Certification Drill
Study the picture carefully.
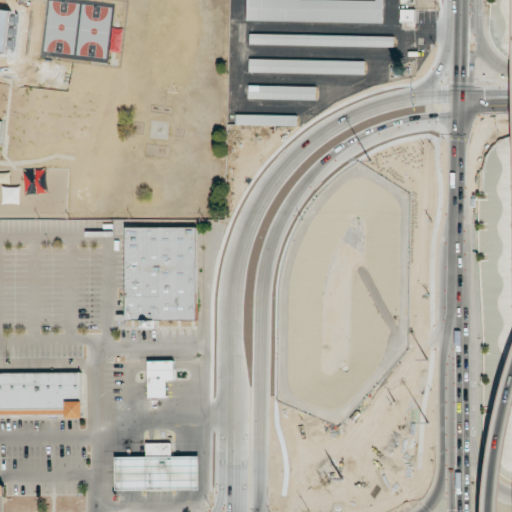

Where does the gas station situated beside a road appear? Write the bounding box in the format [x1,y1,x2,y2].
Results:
[114,456,198,491]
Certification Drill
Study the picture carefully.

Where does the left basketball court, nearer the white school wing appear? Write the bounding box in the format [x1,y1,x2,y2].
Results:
[44,1,80,55]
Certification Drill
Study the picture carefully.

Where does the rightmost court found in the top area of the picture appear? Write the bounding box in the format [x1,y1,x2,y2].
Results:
[77,4,112,59]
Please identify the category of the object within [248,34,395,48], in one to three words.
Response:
building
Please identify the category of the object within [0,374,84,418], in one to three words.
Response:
building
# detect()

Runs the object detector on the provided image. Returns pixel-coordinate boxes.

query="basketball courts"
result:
[44,1,80,55]
[77,4,112,59]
